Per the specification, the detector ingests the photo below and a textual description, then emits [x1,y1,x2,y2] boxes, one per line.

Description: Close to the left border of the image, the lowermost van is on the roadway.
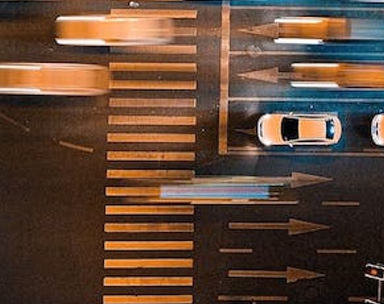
[0,58,86,99]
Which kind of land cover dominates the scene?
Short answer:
paved ground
